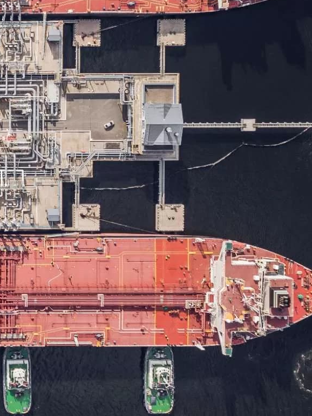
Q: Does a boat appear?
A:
Yes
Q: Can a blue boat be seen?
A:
No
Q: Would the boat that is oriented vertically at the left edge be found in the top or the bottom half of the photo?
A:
bottom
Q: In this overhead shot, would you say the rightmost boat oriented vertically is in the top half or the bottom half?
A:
bottom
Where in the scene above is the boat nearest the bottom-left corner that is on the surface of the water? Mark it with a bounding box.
[2,346,32,415]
